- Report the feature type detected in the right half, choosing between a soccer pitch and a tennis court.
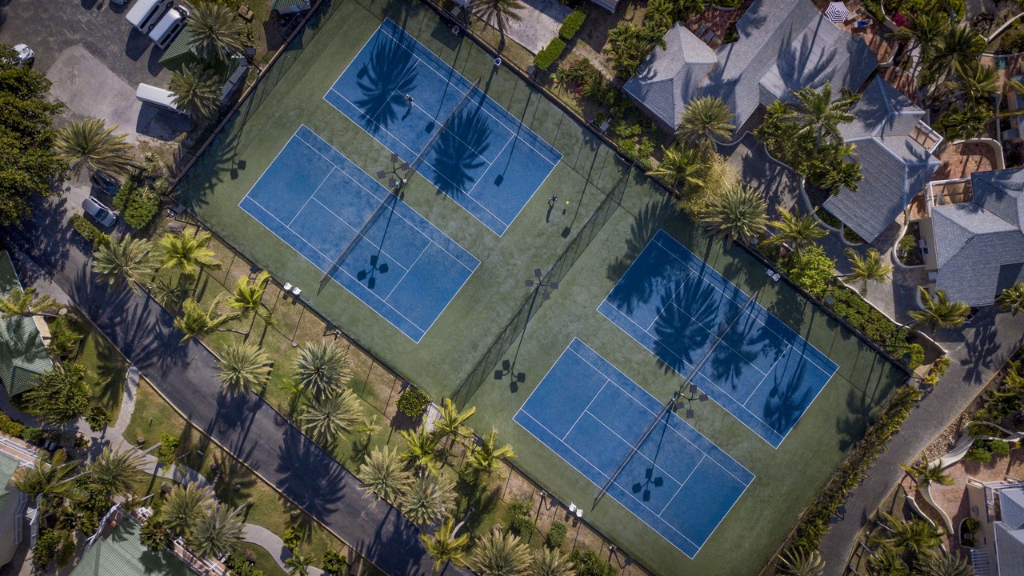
tennis court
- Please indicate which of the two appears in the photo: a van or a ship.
van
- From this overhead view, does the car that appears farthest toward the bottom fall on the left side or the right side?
left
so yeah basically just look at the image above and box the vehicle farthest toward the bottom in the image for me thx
[81,194,124,230]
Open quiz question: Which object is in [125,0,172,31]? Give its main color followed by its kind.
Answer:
white van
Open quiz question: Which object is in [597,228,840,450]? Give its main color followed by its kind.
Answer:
blue tennis court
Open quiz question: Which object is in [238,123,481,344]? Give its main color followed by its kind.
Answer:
blue tennis court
